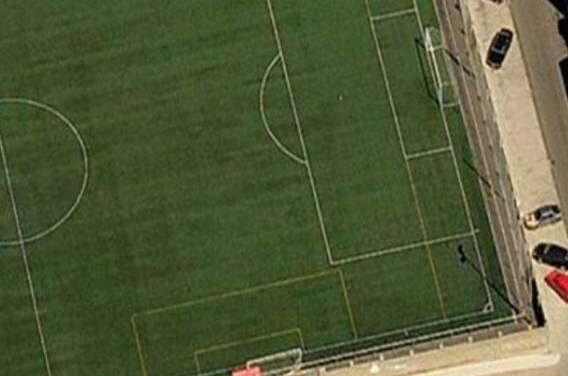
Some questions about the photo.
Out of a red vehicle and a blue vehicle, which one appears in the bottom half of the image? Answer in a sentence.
What appears in the bottom half of the image is a red vehicle.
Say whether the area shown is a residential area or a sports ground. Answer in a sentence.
It's a sports ground.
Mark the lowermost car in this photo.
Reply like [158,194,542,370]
[548,275,568,301]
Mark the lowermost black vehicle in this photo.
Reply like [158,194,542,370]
[532,243,568,273]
